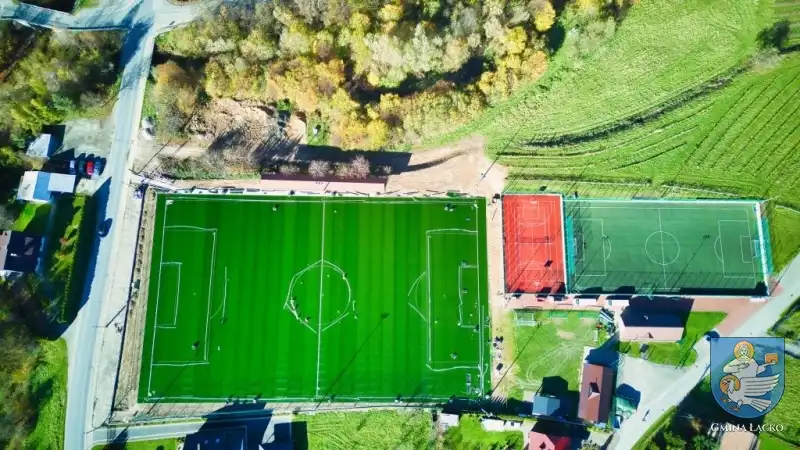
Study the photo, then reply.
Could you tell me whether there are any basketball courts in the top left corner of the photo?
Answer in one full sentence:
No, there is no basketball court in the top left corner of the photo.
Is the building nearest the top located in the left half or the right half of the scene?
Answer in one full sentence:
You can find the building nearest the top on the left side of the picture.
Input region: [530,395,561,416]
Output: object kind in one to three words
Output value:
shed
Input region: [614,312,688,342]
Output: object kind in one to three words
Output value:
building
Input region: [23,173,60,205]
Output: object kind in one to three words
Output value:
house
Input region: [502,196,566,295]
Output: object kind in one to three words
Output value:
basketball court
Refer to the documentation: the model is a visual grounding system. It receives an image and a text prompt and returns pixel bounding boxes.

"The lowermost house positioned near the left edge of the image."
[1,230,48,273]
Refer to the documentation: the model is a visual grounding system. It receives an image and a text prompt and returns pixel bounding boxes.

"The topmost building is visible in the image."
[29,134,55,159]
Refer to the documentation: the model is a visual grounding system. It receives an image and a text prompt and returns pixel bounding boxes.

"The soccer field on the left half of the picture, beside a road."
[138,194,491,402]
